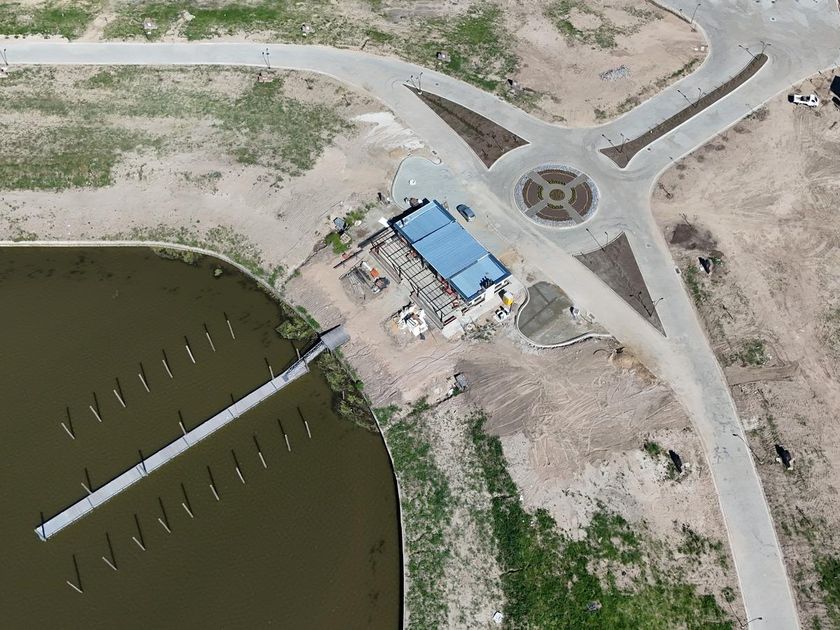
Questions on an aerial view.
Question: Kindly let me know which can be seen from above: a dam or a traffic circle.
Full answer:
Visible in the photo is a traffic circle.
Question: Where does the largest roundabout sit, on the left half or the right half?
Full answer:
The largest roundabout appears in the right half of the scene.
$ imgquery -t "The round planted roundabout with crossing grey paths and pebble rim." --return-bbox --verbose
[514,162,600,228]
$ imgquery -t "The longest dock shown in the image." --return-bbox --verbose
[38,368,308,540]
